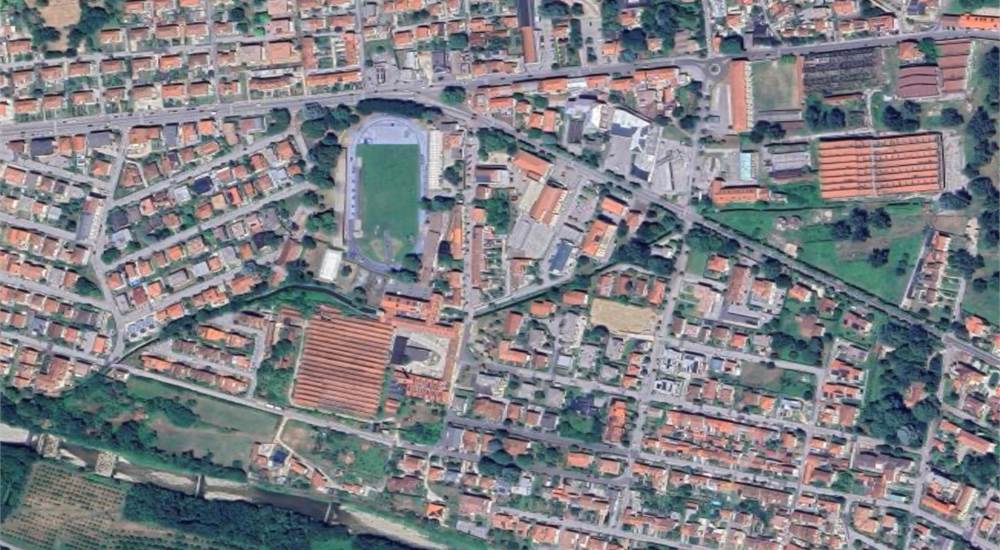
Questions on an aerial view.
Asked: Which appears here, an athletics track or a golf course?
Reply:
athletics track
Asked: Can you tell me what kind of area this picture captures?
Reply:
residential area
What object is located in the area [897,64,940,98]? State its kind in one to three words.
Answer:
shed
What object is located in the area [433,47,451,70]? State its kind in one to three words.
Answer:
building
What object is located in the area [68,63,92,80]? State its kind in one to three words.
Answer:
house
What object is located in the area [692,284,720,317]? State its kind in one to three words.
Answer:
house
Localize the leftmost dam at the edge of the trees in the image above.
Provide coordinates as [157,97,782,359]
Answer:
[35,435,61,459]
